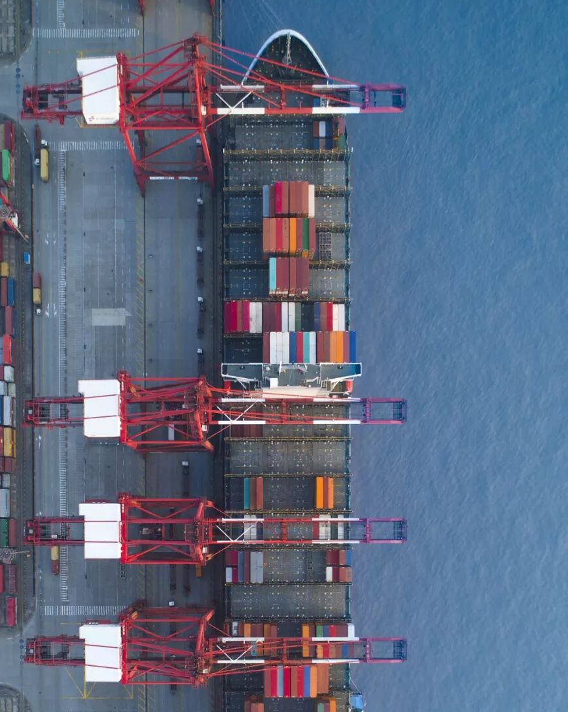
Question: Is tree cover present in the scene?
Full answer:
No, there is no tree cover in the image.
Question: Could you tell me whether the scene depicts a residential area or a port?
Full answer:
The picture captures a port.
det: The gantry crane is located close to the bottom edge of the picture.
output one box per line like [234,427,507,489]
[22,597,408,687]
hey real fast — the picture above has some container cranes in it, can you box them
[21,369,408,460]
[22,489,408,567]
[19,31,406,197]
[22,597,408,687]
[0,191,23,243]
